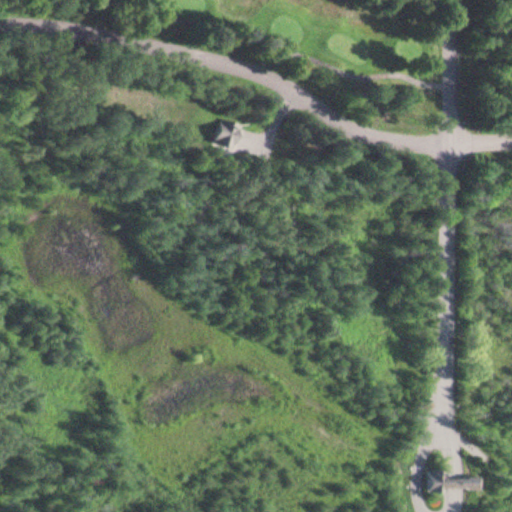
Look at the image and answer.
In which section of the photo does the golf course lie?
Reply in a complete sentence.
The golf course appears toward the top of the photo.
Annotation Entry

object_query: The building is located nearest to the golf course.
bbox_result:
[215,121,234,147]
